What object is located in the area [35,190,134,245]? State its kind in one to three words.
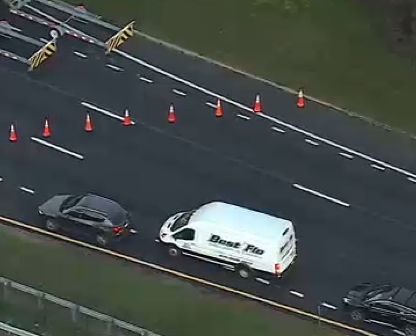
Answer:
car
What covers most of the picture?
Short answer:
paved ground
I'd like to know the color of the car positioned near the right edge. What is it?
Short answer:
black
